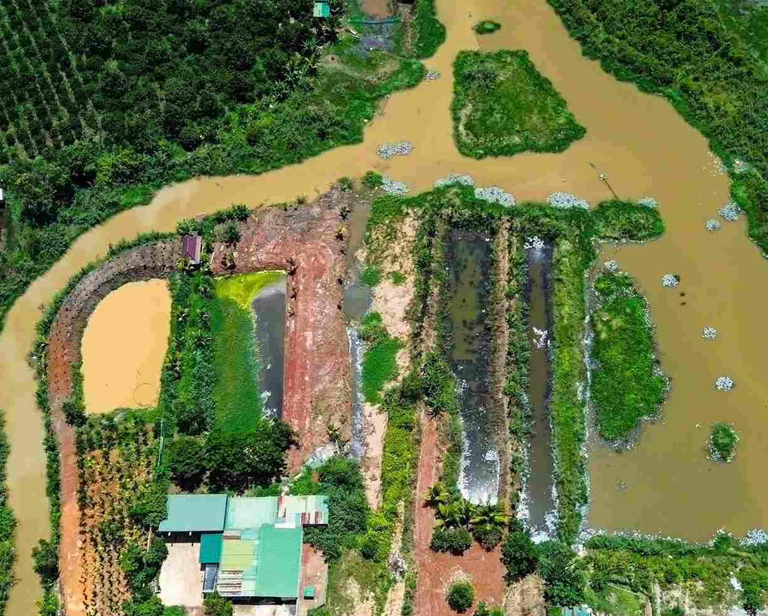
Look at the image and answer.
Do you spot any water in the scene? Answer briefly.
Yes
